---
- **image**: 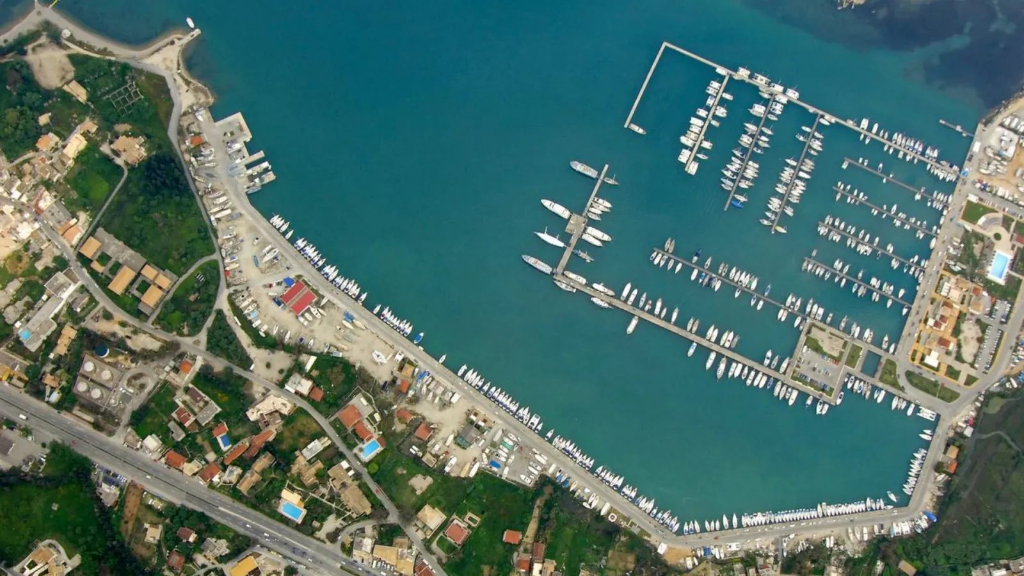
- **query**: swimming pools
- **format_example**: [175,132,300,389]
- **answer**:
[464,511,481,527]
[985,249,1012,282]
[218,433,231,451]
[17,326,34,344]
[352,435,385,463]
[279,499,306,525]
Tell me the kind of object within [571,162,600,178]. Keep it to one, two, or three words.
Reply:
ship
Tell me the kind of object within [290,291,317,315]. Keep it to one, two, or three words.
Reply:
building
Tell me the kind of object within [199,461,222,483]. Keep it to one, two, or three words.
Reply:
house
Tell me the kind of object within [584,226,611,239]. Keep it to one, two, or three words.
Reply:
boat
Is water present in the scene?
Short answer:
Yes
